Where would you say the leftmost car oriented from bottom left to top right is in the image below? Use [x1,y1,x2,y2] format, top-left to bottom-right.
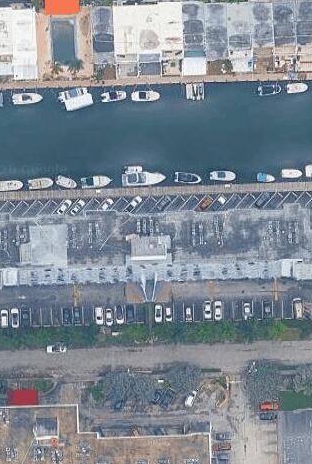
[55,198,73,216]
